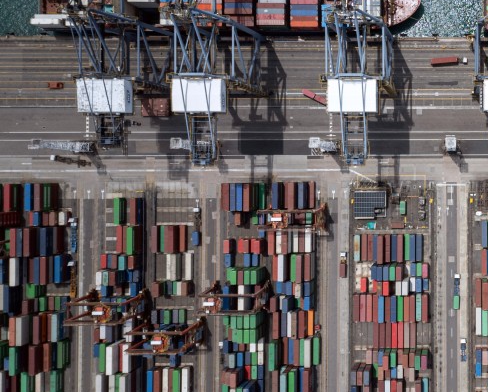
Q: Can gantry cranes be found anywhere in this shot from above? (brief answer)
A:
Yes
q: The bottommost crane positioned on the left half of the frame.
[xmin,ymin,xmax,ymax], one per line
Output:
[123,316,203,356]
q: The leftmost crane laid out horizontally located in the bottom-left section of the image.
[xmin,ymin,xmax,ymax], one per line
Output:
[65,288,147,326]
